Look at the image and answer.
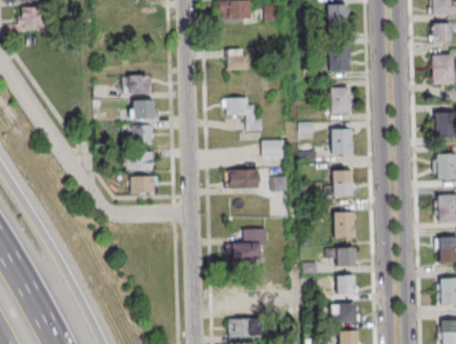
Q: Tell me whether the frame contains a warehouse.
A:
No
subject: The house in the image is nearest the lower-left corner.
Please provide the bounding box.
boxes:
[130,176,159,197]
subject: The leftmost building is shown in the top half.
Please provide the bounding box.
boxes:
[14,6,46,34]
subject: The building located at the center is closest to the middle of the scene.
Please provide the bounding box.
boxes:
[224,169,260,188]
